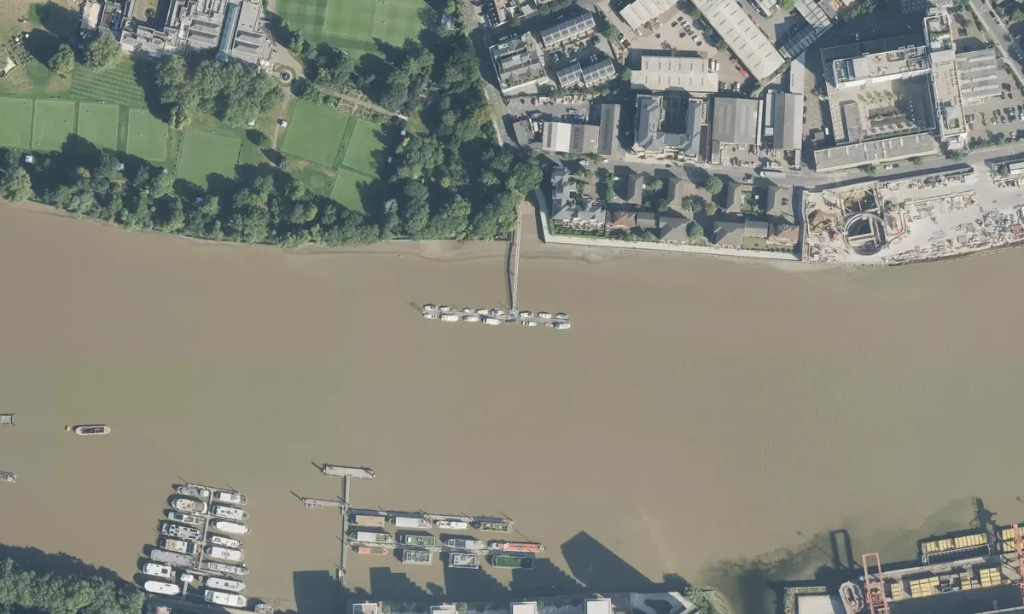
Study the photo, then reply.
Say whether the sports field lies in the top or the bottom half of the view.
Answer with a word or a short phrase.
top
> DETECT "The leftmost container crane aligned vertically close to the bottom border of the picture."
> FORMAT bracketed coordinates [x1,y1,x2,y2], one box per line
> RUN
[859,553,885,614]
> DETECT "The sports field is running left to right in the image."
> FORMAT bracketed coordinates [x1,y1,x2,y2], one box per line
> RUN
[276,0,429,66]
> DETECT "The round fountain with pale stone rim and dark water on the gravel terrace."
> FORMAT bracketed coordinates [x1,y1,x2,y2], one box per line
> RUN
[276,65,296,86]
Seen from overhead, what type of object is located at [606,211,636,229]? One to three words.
house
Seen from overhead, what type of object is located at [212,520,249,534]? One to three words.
boat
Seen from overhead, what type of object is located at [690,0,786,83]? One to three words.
building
